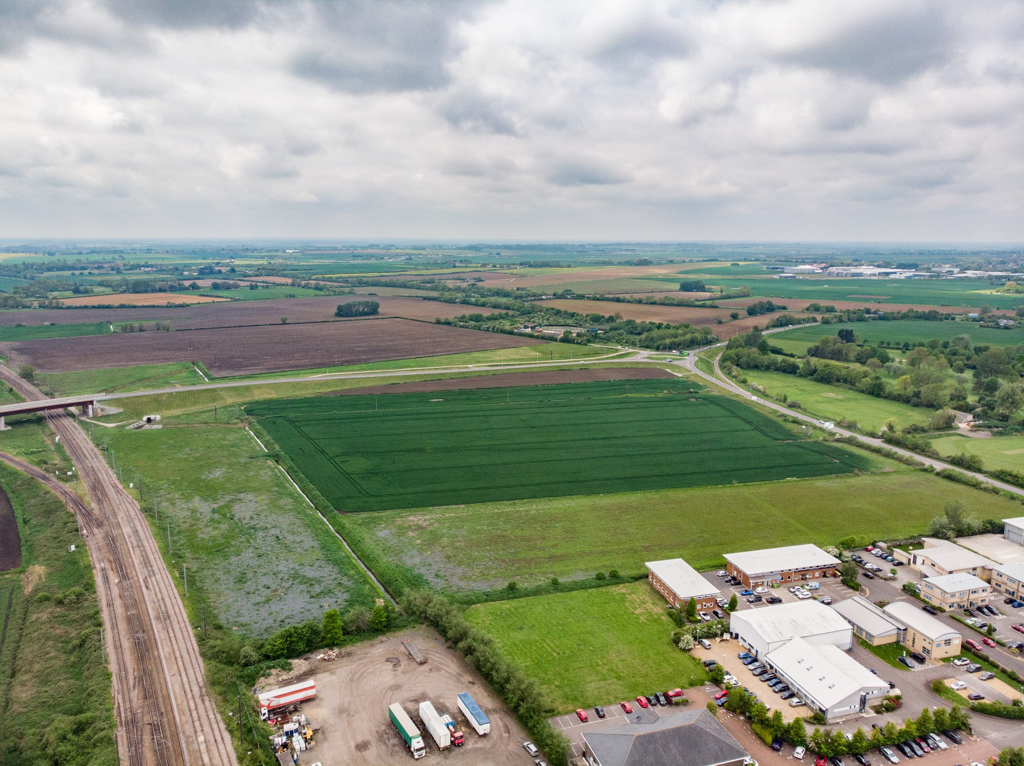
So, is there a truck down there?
Yes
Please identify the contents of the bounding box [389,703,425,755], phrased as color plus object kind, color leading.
white truck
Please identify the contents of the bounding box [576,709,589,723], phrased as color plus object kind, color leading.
red vehicle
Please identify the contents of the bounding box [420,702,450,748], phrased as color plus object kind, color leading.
white trailer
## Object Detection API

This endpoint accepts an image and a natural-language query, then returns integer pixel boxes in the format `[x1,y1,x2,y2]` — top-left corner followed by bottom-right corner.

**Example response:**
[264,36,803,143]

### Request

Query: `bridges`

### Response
[0,392,129,426]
